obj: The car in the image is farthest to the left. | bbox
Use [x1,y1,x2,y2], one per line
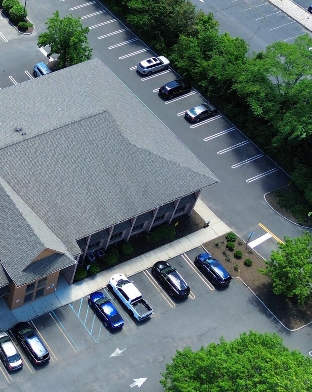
[0,329,27,372]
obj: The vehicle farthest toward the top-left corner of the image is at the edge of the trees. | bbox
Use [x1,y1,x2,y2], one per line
[30,61,51,77]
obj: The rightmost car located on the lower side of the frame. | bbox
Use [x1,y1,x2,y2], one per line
[191,246,231,284]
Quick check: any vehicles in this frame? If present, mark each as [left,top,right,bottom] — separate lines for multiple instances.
[161,77,197,97]
[137,56,172,75]
[185,101,221,122]
[0,329,27,372]
[90,287,130,328]
[191,246,231,284]
[150,260,191,301]
[30,61,51,77]
[107,272,153,321]
[11,318,51,364]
